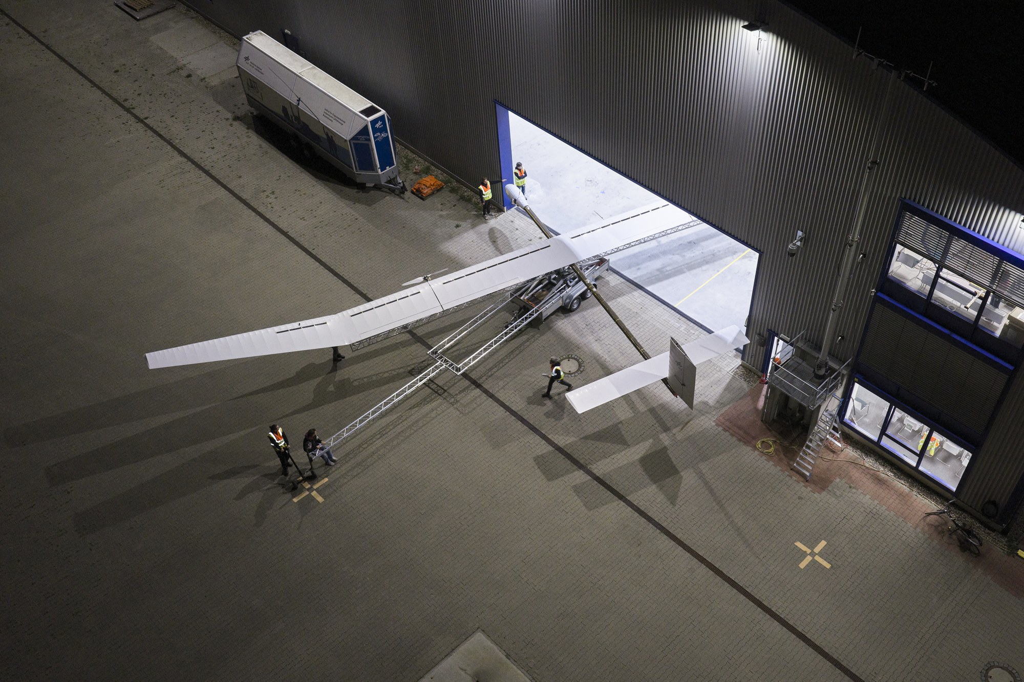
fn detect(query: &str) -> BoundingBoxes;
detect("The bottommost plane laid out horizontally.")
[145,183,748,413]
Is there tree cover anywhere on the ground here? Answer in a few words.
No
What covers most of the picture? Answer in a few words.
paved ground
